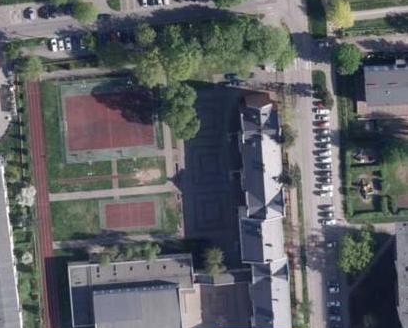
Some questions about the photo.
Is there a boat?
No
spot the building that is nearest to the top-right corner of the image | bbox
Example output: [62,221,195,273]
[363,53,408,105]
